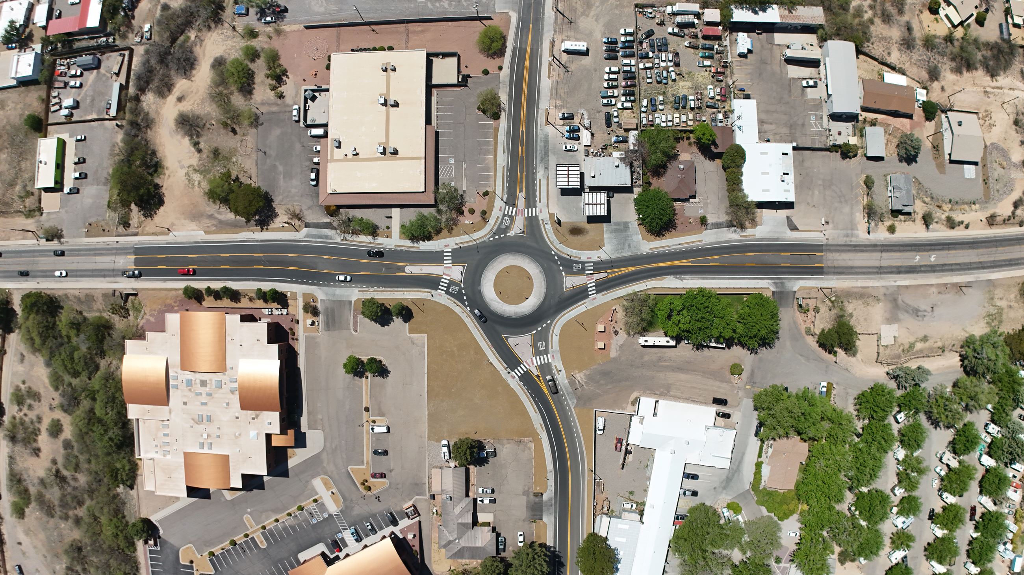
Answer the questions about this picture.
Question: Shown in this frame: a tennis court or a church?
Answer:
church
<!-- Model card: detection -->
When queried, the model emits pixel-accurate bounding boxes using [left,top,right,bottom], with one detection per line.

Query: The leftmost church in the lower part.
[120,311,298,498]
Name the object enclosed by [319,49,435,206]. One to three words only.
building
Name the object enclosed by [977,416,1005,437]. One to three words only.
vehicle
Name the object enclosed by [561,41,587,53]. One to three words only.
vehicle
